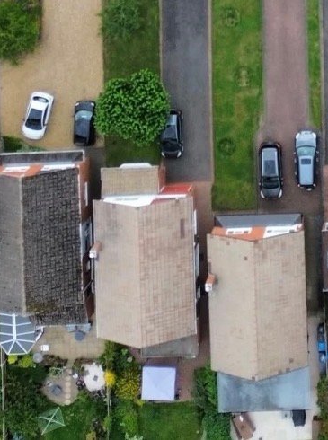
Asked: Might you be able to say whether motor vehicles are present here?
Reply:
Yes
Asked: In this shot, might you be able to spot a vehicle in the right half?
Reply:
Yes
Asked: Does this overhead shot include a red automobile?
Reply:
No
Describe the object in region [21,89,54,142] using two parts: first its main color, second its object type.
white car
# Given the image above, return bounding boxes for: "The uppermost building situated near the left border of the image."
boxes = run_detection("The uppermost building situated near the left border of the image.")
[0,145,96,327]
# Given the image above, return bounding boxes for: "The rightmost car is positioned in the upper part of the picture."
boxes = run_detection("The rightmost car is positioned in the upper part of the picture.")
[291,130,321,190]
